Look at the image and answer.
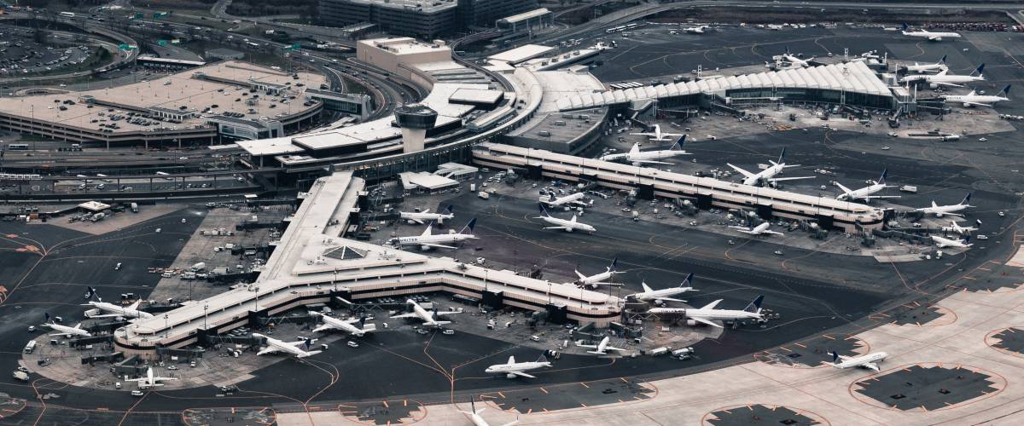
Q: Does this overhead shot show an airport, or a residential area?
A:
airport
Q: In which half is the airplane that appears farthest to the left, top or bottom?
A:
bottom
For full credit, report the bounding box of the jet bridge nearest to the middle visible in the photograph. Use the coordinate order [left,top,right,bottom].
[505,169,522,187]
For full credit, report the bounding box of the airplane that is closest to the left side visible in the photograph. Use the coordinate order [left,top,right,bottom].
[41,314,94,338]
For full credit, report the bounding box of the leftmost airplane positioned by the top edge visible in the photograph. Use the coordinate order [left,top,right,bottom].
[683,18,714,34]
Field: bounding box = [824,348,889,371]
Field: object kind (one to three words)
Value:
airplane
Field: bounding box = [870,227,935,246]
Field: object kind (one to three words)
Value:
jet bridge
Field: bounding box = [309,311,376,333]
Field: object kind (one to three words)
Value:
airplane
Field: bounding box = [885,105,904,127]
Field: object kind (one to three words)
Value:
jet bridge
